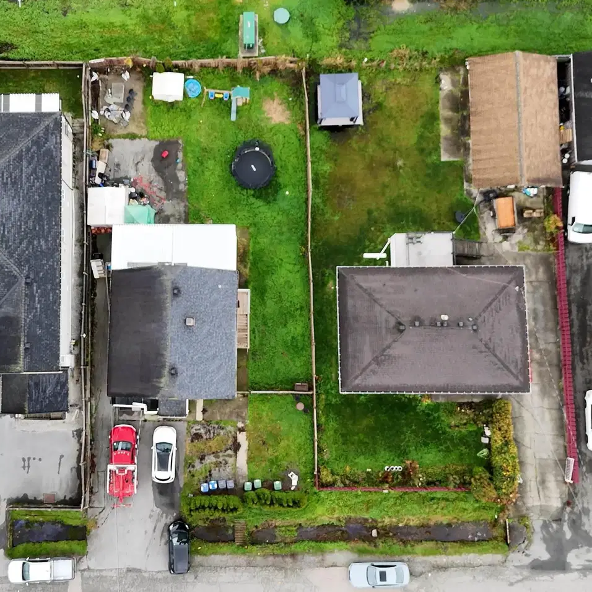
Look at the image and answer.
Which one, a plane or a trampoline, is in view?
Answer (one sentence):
Looking from above, you can make out a trampoline.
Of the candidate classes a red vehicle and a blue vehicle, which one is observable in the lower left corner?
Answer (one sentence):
Visible in the lower left corner is a red vehicle.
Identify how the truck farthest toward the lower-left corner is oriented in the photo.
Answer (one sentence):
In this picture, the truck farthest toward the lower-left corner is oriented from side to side.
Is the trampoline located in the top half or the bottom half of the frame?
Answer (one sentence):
The trampoline sits in the top half of the picture.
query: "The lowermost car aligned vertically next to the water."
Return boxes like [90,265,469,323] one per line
[165,518,192,577]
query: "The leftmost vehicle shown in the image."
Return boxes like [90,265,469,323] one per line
[7,554,77,589]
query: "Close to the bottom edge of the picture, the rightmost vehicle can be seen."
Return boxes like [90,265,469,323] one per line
[346,559,411,592]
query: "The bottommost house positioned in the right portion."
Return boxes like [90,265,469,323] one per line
[335,233,532,394]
